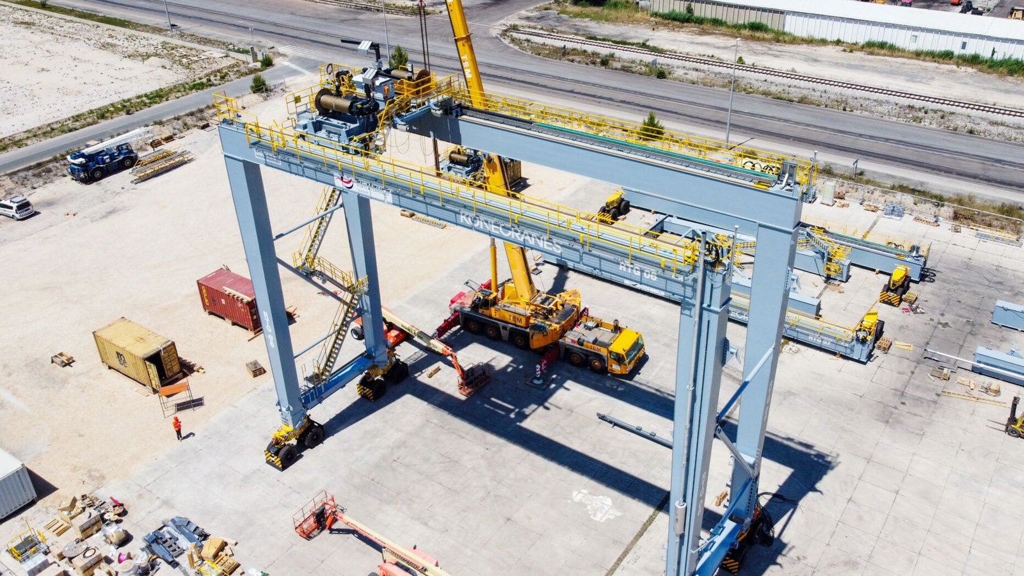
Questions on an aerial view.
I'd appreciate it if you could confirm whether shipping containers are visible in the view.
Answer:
Yes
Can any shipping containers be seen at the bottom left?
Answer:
Yes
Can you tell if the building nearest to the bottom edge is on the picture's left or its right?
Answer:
right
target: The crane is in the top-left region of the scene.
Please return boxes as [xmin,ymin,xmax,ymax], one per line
[61,120,162,183]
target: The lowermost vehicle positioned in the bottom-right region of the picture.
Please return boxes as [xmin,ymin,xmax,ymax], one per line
[972,393,1024,447]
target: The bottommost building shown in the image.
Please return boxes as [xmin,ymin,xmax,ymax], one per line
[818,175,842,208]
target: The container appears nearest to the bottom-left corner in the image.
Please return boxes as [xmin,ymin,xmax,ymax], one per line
[0,447,36,518]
